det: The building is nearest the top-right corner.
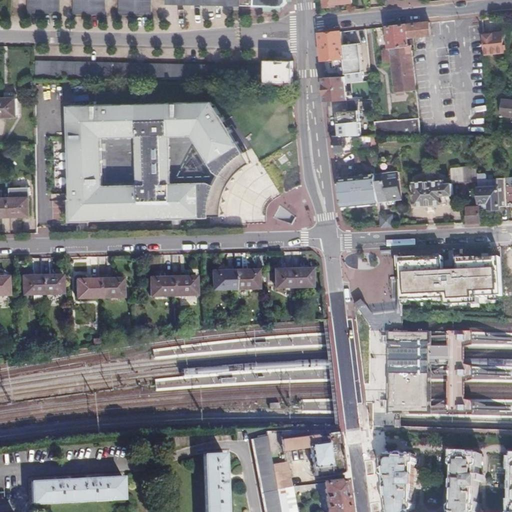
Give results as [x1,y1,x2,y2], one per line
[482,30,507,56]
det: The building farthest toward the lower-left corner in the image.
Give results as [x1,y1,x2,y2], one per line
[31,475,129,506]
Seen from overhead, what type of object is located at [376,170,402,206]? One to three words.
house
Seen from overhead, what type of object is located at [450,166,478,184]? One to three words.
shed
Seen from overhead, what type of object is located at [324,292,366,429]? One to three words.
bridge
